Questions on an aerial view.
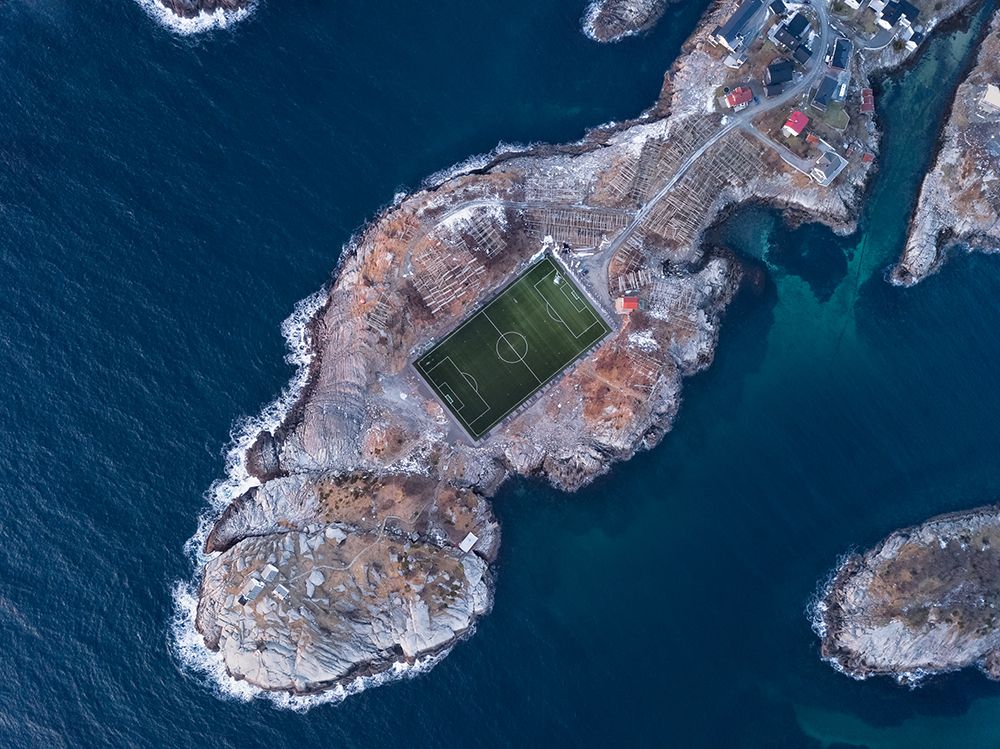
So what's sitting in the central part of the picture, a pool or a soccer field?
soccer field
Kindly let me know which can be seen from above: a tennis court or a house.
house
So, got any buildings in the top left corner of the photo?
No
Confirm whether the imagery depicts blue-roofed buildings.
Yes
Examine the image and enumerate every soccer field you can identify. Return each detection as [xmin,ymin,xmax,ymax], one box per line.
[409,248,619,447]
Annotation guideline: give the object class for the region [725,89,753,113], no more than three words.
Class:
house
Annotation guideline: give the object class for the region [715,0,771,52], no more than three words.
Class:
building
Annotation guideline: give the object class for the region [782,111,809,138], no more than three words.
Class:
house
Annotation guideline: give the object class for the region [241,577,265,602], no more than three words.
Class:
shed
